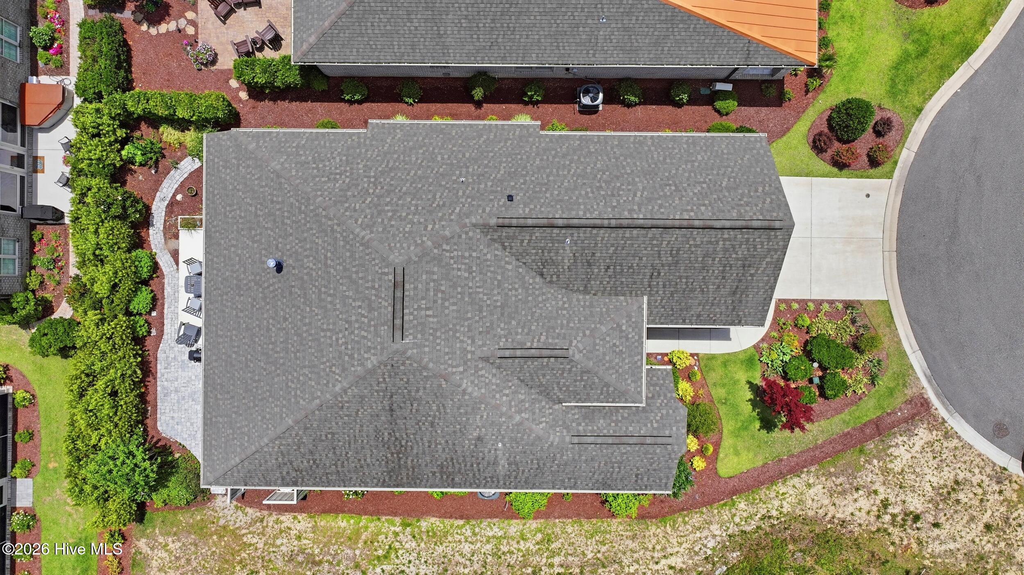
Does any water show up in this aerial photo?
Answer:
No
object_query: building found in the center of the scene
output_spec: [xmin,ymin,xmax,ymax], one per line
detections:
[200,119,792,494]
